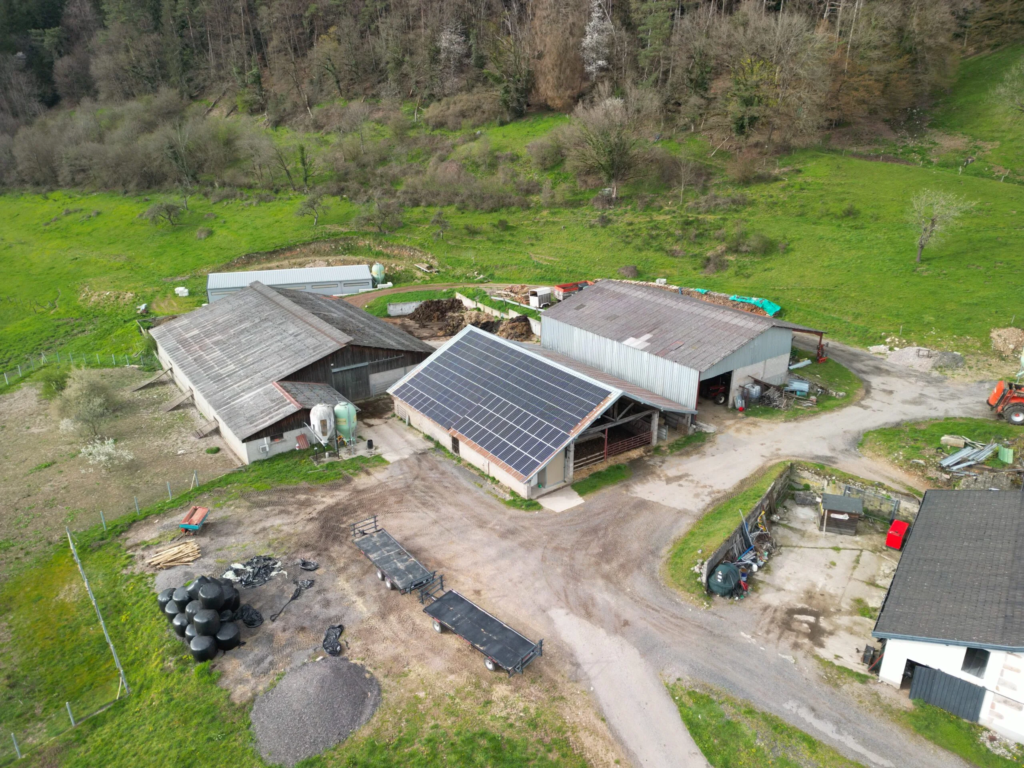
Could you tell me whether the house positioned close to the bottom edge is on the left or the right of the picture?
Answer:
right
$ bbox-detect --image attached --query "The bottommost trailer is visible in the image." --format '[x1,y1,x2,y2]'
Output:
[410,573,547,679]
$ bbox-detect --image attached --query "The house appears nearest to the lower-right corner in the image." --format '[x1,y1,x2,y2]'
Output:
[865,495,1024,742]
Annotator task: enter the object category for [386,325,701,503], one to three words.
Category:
barn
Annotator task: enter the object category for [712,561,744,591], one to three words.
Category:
storage tank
